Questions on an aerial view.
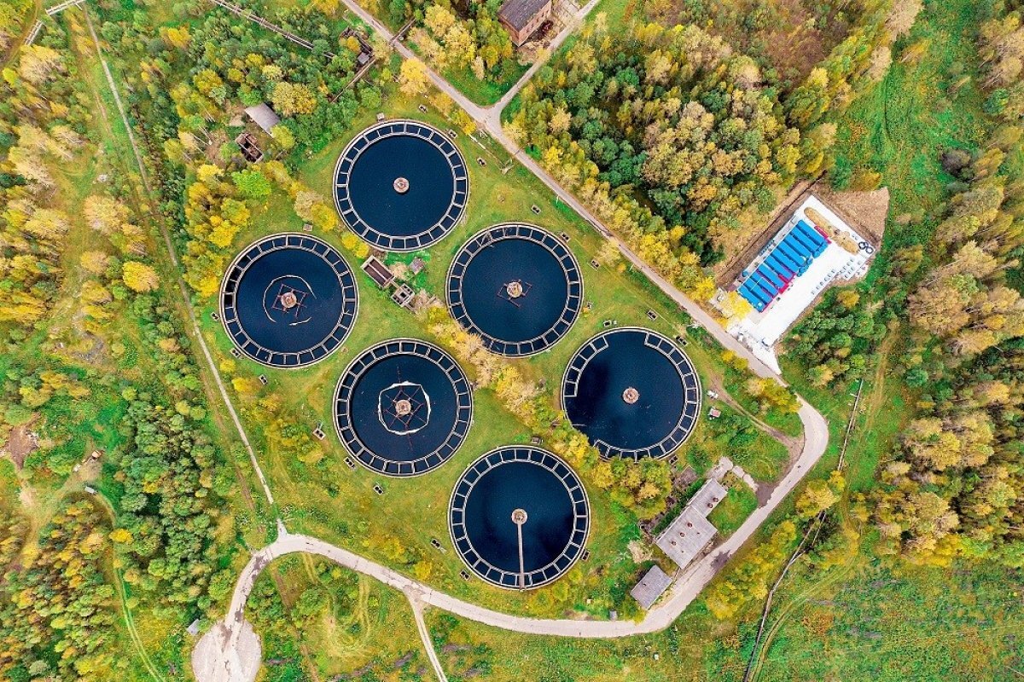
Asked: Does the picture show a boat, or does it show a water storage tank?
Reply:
water storage tank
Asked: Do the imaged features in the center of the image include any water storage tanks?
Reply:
Yes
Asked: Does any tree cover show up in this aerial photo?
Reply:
Yes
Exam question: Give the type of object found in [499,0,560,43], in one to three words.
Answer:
house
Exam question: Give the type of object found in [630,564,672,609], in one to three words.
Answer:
shed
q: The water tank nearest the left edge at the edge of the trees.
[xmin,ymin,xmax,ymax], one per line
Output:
[219,232,359,370]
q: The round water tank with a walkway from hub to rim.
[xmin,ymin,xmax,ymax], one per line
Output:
[448,445,591,592]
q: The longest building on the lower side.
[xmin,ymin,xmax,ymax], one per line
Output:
[654,478,728,569]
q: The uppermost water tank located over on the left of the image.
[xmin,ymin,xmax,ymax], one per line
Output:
[333,118,470,253]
